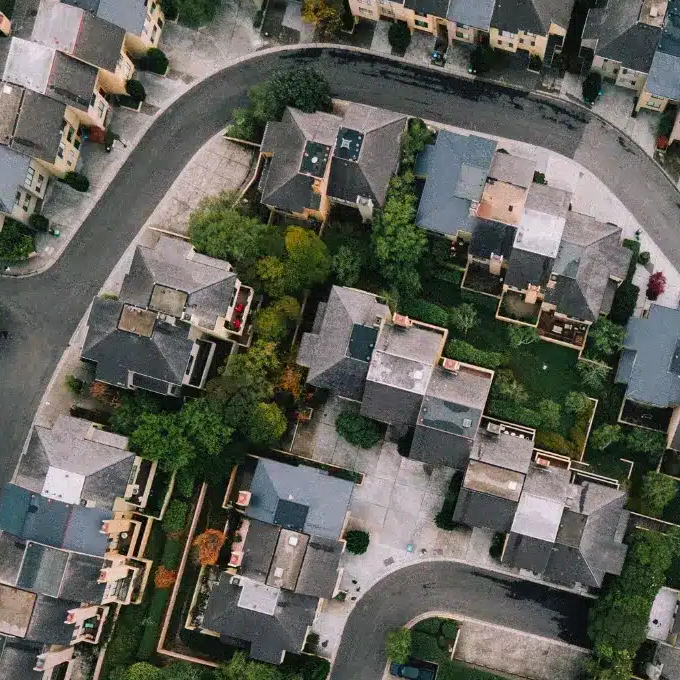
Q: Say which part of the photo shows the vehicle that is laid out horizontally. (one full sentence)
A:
Look in the bottom portion of the view to spot the vehicle that is laid out horizontally.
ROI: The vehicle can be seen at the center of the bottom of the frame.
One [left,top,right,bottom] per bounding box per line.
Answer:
[389,660,435,680]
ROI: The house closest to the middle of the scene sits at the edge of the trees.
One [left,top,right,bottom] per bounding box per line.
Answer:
[295,285,393,403]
